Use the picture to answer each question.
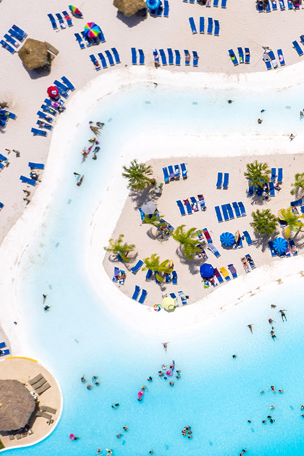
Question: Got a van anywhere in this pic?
No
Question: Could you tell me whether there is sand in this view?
Yes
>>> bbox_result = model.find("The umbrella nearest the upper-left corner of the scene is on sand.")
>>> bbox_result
[67,3,83,17]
